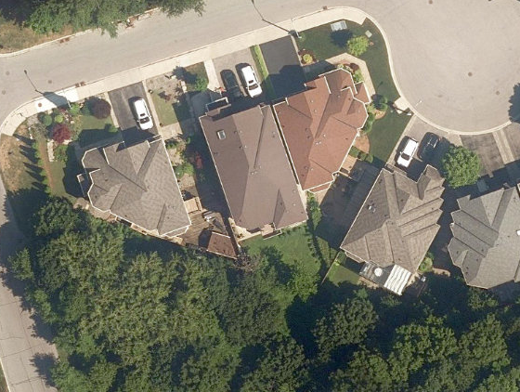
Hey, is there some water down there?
No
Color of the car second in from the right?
white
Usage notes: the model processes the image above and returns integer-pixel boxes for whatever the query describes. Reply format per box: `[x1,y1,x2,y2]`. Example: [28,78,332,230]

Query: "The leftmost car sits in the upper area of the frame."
[133,97,151,130]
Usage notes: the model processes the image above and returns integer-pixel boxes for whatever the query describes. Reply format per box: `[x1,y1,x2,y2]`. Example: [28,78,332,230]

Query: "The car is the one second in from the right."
[397,135,418,168]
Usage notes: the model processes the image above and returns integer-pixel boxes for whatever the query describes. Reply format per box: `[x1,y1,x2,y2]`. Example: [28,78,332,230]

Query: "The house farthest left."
[77,135,191,237]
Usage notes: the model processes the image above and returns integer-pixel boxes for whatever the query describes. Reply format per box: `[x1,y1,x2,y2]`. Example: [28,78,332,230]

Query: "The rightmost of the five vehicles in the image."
[419,132,443,164]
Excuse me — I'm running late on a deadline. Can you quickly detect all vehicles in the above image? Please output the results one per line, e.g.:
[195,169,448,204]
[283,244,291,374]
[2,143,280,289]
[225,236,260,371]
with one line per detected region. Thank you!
[240,63,261,97]
[419,132,443,164]
[221,66,243,98]
[133,97,151,130]
[397,135,418,168]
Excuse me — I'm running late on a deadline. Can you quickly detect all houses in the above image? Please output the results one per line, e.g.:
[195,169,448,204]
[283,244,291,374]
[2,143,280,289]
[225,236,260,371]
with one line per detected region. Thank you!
[273,68,371,193]
[447,186,520,289]
[199,97,308,230]
[77,135,191,237]
[339,164,445,273]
